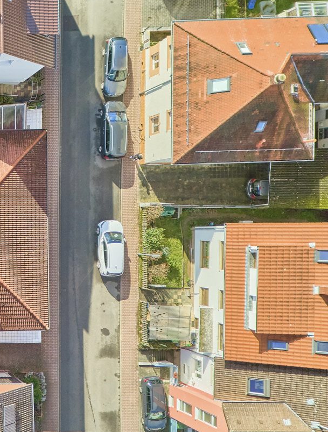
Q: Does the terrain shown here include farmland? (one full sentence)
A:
No, there's no farmland in this view.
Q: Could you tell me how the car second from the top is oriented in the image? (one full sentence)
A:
From this overhead view, the car second from the top appears to run vertically.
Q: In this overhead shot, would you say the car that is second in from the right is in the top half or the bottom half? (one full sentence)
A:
The car that is second in from the right sits in the bottom half of the picture.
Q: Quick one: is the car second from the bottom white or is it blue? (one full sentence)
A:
The car second from the bottom looks white in the image.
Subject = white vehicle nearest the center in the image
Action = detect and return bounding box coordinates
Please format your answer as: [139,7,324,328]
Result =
[96,220,126,277]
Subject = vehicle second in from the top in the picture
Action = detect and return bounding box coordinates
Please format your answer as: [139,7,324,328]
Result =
[100,102,130,160]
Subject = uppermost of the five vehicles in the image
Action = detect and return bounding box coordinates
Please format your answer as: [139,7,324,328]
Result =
[101,38,131,98]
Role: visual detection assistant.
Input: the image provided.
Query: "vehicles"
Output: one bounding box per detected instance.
[138,375,170,432]
[100,102,130,160]
[101,38,131,98]
[96,220,126,277]
[240,179,267,199]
